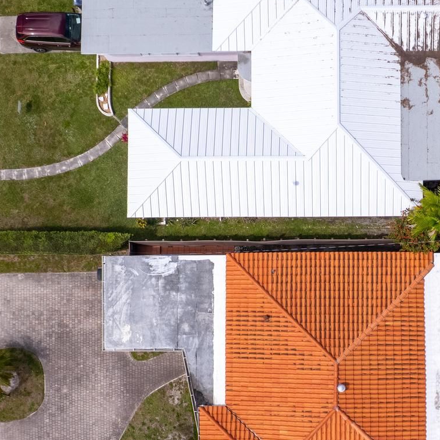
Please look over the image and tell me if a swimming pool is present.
No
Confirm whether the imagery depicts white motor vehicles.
No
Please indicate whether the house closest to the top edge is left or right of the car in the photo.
on the right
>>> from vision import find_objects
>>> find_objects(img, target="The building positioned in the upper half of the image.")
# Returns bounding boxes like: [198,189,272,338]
[81,0,440,219]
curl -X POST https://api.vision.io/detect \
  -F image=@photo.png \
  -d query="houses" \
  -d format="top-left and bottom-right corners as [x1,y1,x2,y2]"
[102,250,440,440]
[81,0,440,219]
